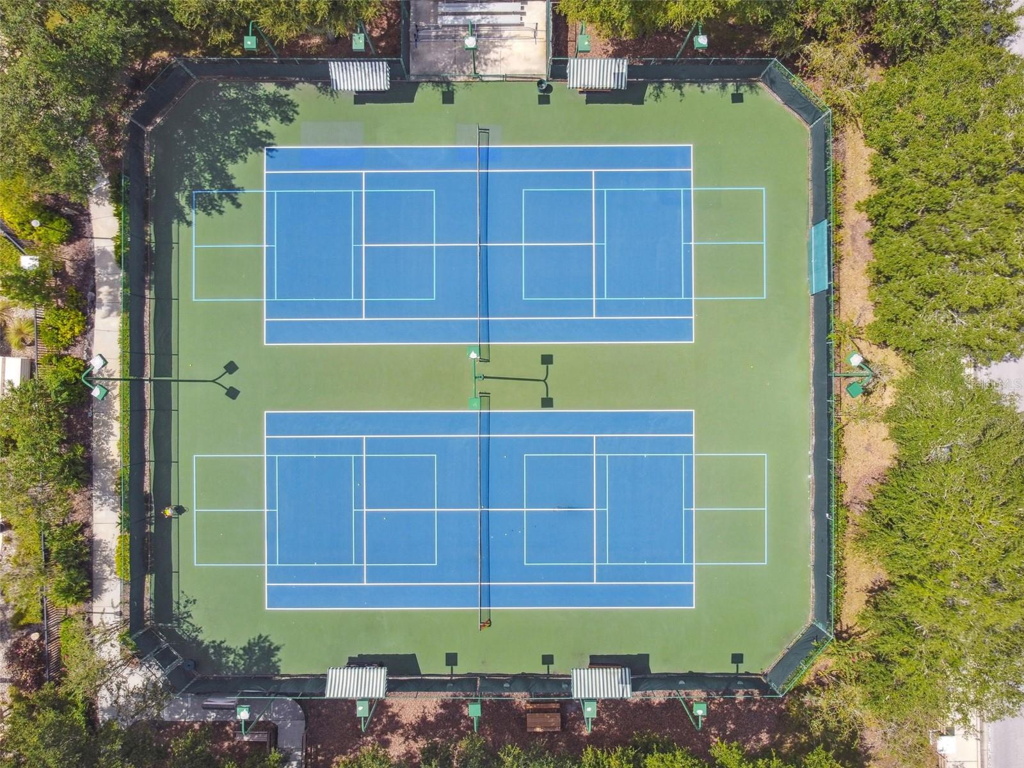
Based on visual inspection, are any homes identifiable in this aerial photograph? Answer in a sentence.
No, the frame has no home in it.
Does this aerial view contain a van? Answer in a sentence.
No, there isn't any van down there.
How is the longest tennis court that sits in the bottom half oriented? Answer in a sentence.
In this picture, the longest tennis court that sits in the bottom half is oriented from side to side.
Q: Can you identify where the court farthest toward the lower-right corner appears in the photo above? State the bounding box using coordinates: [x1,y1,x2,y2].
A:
[524,453,767,565]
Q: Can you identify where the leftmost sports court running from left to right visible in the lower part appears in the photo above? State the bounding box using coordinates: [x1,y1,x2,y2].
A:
[194,455,436,566]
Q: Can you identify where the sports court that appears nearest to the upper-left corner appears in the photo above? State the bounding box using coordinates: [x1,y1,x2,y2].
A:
[193,189,435,301]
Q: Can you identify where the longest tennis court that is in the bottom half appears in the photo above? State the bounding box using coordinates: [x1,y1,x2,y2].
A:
[265,410,695,610]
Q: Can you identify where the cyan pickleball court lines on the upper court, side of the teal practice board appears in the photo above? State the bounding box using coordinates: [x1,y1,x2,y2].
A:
[523,187,765,299]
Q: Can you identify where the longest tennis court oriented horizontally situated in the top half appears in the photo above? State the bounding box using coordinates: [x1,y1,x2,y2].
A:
[264,145,693,345]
